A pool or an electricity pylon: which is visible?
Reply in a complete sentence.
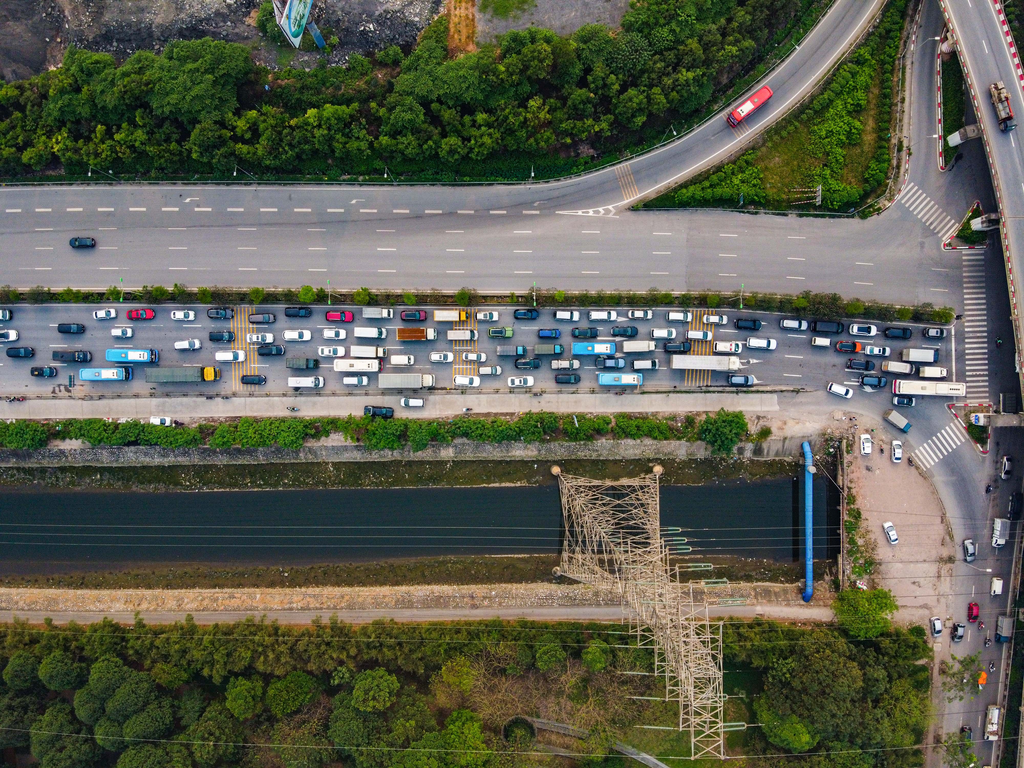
It is an electricity pylon that can be seen here.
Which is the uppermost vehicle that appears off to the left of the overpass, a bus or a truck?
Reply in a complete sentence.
I'd say the uppermost vehicle that appears off to the left of the overpass is a bus.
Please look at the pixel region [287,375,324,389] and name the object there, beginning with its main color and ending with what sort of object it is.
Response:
white vehicle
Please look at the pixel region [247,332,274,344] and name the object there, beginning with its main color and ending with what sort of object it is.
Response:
white vehicle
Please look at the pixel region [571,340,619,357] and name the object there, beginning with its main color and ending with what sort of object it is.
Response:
blue vehicle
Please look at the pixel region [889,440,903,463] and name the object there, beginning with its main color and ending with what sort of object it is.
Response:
white car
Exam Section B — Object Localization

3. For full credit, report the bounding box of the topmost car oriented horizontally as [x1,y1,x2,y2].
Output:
[71,237,96,249]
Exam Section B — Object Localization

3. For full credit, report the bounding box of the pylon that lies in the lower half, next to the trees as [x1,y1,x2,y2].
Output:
[550,464,755,760]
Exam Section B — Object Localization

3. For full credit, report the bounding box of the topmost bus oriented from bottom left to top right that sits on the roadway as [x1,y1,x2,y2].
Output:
[725,82,777,130]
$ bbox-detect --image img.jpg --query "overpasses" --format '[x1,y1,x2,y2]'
[931,0,1024,500]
